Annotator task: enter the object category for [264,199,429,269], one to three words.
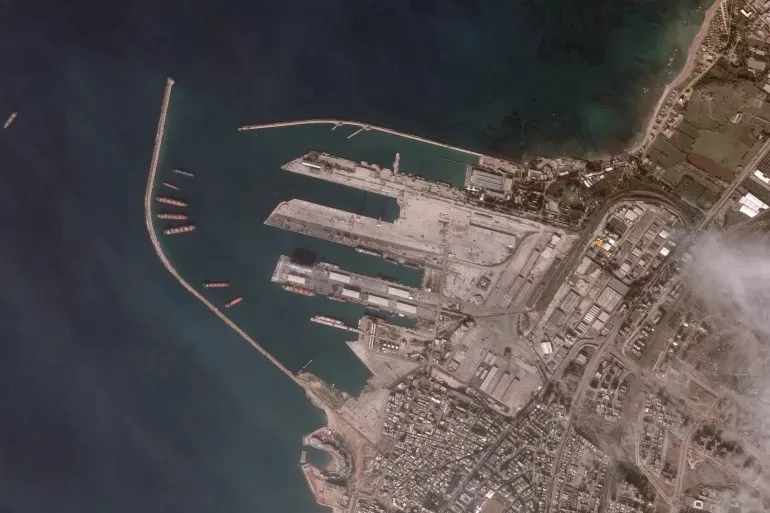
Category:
pier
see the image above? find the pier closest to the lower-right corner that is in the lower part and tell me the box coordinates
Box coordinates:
[347,316,434,378]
